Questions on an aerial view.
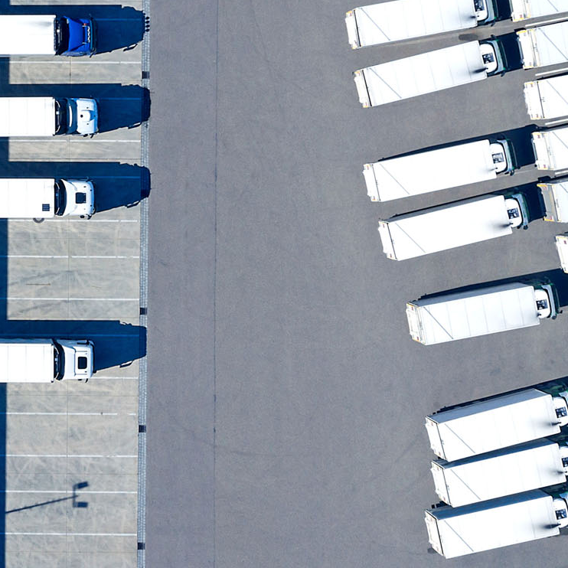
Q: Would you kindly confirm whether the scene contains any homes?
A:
No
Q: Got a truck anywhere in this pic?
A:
Yes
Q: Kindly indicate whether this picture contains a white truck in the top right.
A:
Yes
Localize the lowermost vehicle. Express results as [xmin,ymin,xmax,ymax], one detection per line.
[421,481,568,558]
